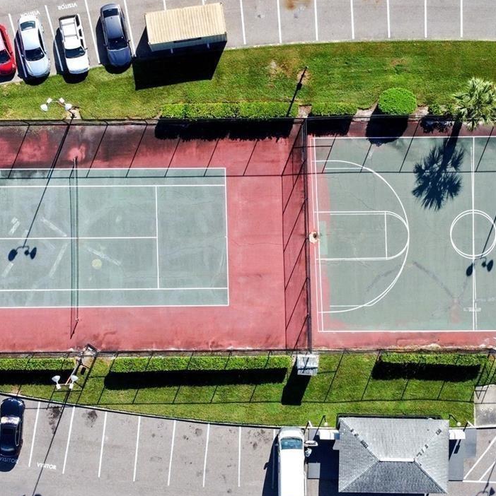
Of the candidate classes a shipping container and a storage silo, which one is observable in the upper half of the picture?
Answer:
shipping container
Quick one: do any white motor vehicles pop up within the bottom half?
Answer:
Yes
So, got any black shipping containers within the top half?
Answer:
No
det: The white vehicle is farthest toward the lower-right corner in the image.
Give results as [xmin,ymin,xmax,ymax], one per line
[276,425,316,496]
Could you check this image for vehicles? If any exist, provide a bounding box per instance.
[59,14,92,75]
[0,397,24,457]
[101,4,134,70]
[18,15,54,80]
[0,23,20,80]
[276,425,316,496]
